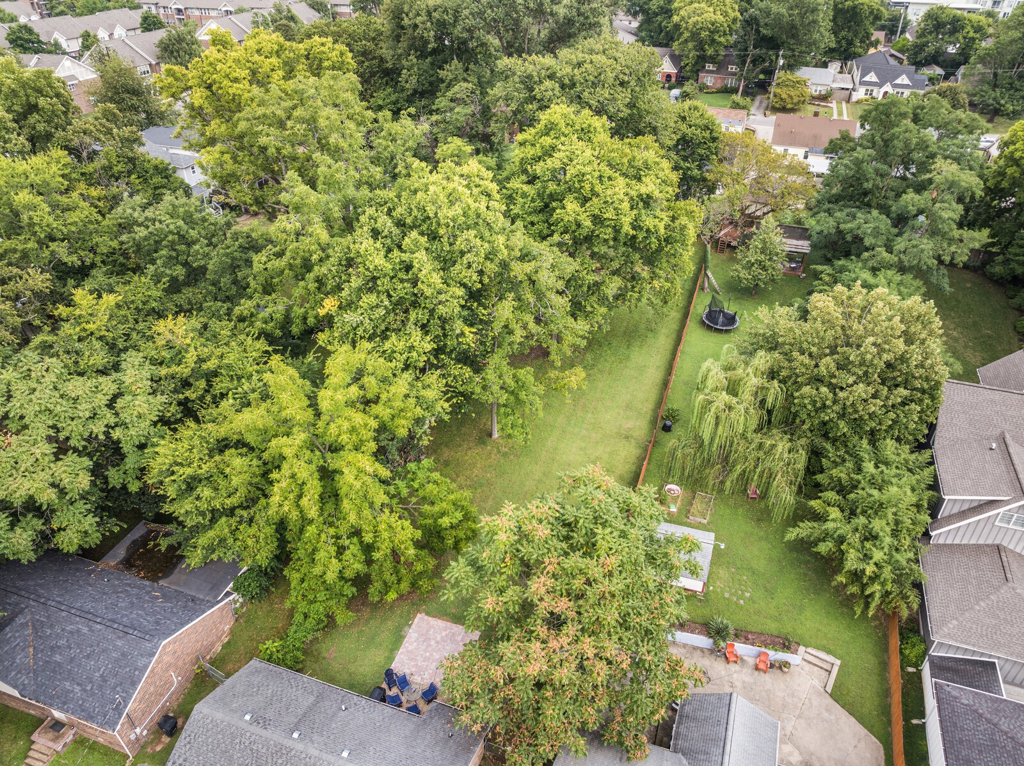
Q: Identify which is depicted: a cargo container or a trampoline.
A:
trampoline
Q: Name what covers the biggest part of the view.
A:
trees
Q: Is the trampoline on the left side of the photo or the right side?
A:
right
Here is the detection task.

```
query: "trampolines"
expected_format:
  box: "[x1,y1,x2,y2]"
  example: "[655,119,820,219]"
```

[703,297,747,344]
